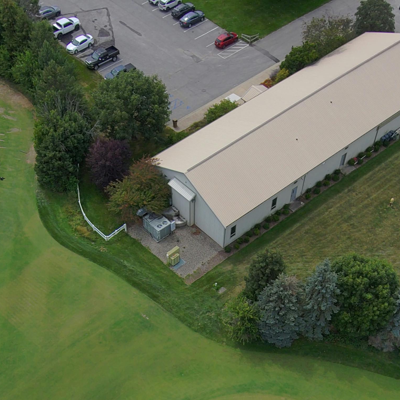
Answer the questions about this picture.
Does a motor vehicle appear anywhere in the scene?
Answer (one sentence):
Yes, there's a motor vehicle here.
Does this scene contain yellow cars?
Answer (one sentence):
No, there's no yellow car here.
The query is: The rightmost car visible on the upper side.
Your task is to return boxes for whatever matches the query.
[214,32,240,50]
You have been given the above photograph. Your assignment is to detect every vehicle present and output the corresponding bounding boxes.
[34,3,63,20]
[156,0,183,14]
[170,3,197,21]
[103,60,141,82]
[50,17,85,39]
[214,32,240,50]
[66,34,95,54]
[84,46,122,71]
[179,11,206,28]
